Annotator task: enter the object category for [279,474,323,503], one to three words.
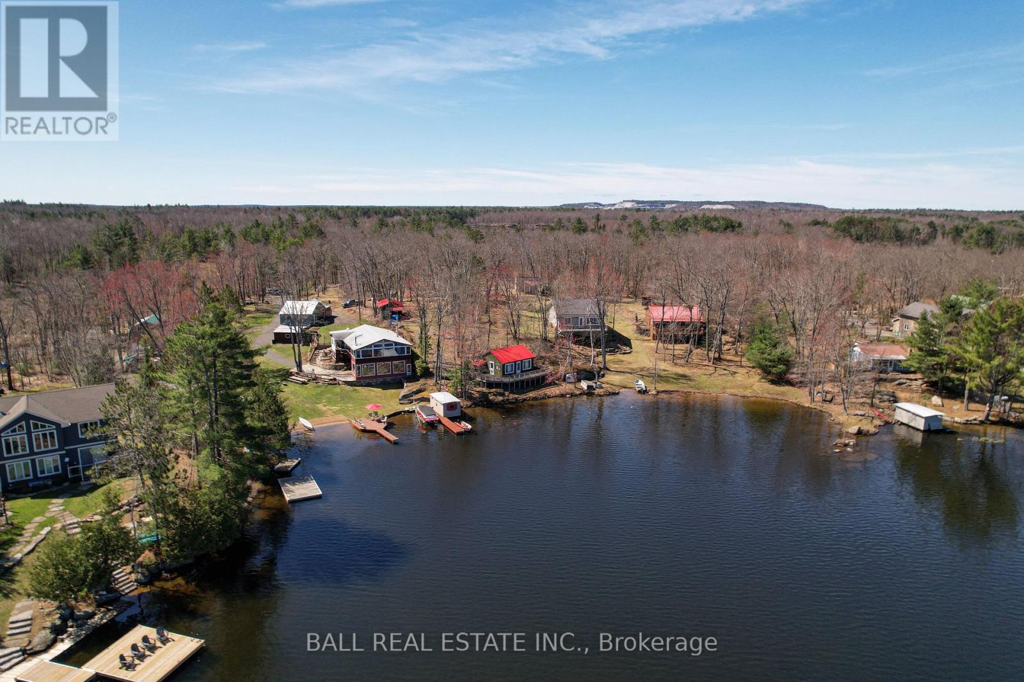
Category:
pier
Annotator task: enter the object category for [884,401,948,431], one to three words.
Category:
building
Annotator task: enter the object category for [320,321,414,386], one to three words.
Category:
house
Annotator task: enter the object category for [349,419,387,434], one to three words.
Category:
pier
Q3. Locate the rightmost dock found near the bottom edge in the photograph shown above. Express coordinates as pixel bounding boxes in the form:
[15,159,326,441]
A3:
[81,624,214,682]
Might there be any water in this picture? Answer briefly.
Yes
